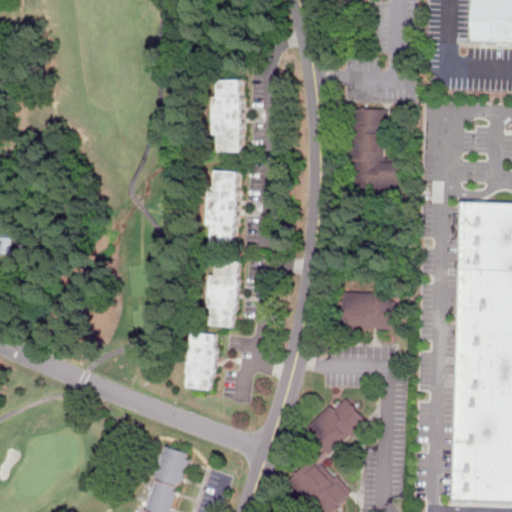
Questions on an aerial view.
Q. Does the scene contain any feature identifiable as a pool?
No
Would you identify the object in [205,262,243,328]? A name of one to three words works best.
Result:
building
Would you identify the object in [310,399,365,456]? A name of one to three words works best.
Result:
house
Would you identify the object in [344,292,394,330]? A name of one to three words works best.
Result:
house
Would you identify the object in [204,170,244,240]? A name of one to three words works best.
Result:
building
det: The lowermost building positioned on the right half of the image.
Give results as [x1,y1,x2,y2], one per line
[292,464,352,512]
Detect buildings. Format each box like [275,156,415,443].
[204,170,244,240]
[310,399,365,456]
[452,204,512,502]
[210,81,248,153]
[292,464,352,512]
[0,238,12,255]
[352,108,400,187]
[184,334,220,392]
[344,292,394,330]
[469,0,512,42]
[205,262,243,328]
